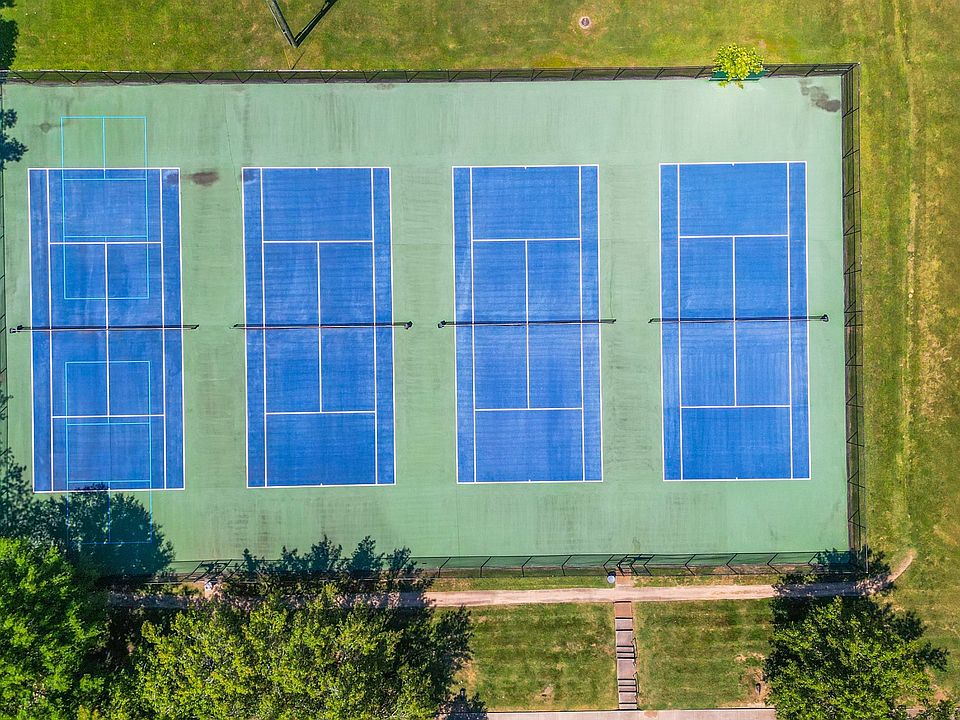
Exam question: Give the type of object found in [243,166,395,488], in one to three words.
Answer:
tennis court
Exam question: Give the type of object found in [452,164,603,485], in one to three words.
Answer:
tennis court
